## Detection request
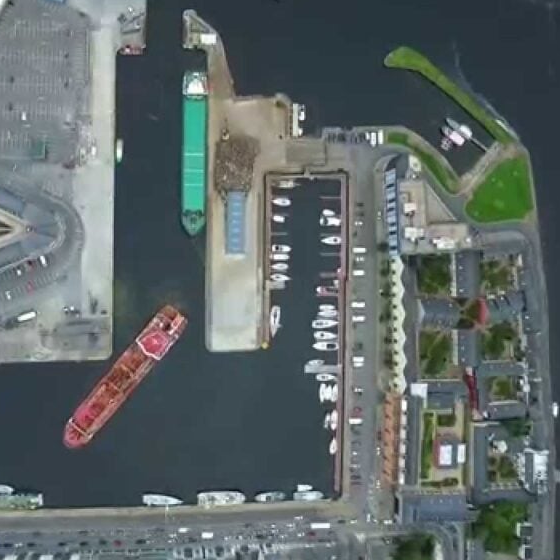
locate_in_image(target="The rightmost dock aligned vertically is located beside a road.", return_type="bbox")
[317,180,346,496]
